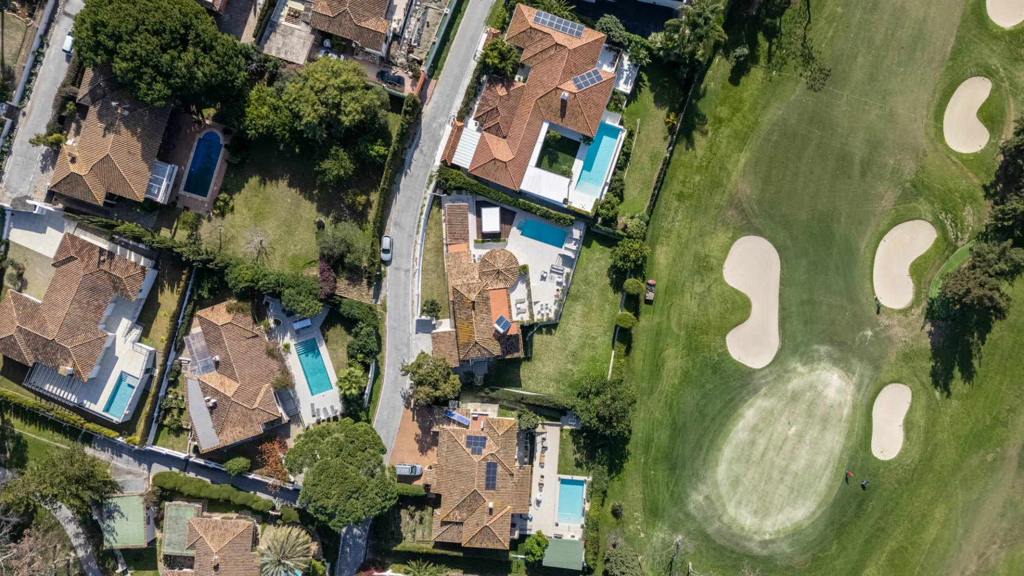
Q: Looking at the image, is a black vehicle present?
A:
Yes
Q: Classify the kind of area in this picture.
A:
golf course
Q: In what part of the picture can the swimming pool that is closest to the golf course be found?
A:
bottom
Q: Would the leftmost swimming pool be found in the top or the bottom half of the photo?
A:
bottom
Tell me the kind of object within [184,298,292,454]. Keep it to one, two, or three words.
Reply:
house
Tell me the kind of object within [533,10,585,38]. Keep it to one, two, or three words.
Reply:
solar panel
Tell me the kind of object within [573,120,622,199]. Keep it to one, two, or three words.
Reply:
swimming pool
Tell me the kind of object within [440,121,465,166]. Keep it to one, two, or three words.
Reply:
building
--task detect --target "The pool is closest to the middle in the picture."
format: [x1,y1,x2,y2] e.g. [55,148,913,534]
[515,218,570,250]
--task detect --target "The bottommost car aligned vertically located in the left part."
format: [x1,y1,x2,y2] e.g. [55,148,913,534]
[381,236,393,262]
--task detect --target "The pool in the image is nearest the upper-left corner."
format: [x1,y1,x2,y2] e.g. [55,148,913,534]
[179,128,225,201]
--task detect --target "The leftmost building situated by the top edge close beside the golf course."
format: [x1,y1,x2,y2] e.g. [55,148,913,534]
[467,2,616,190]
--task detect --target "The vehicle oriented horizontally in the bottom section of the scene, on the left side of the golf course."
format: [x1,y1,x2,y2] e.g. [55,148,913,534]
[396,462,423,475]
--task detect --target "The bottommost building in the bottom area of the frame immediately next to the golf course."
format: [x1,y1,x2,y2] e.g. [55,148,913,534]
[543,536,586,570]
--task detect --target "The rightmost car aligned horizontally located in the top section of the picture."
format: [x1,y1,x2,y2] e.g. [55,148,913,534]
[377,72,405,88]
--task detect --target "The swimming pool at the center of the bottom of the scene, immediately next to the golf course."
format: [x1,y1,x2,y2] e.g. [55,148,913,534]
[555,476,587,527]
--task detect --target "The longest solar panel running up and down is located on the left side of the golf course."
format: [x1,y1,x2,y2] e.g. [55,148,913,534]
[485,462,497,490]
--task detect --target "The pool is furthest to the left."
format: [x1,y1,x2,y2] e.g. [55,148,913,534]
[101,369,143,420]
